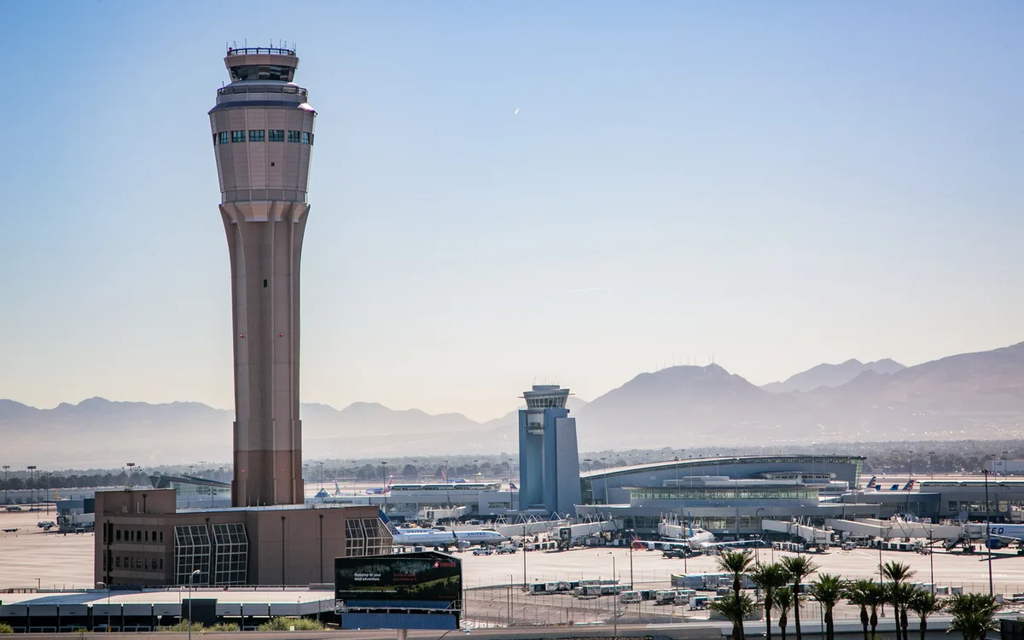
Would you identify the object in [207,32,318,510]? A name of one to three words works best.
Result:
building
